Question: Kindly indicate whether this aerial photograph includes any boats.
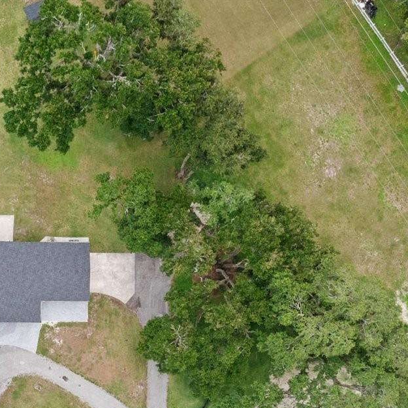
No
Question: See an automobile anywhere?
No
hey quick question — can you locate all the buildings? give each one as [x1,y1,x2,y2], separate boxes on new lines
[23,0,43,26]
[0,241,91,323]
